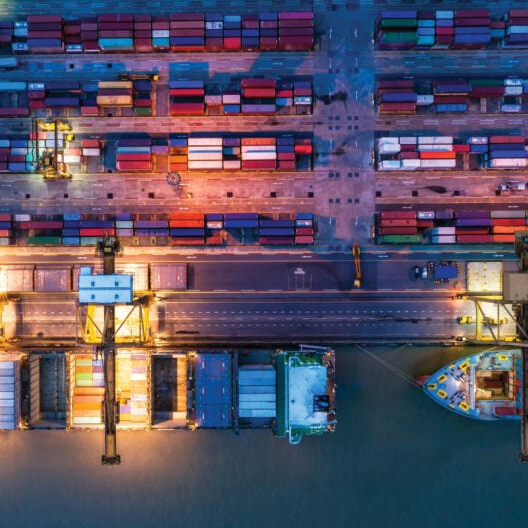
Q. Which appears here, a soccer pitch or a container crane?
container crane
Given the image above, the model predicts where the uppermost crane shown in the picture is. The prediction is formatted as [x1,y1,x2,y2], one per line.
[32,116,74,177]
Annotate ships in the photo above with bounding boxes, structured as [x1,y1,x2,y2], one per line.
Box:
[0,345,336,444]
[416,349,521,422]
